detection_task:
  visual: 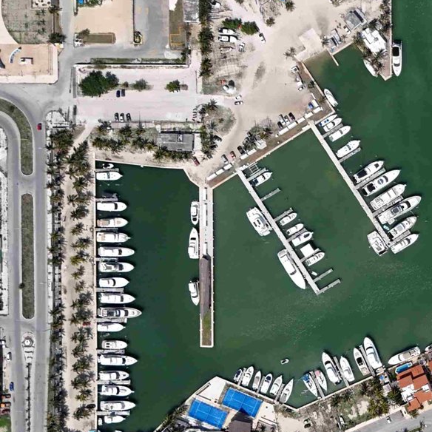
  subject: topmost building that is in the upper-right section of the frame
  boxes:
[344,7,368,31]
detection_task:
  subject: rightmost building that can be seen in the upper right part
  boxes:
[362,28,388,57]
